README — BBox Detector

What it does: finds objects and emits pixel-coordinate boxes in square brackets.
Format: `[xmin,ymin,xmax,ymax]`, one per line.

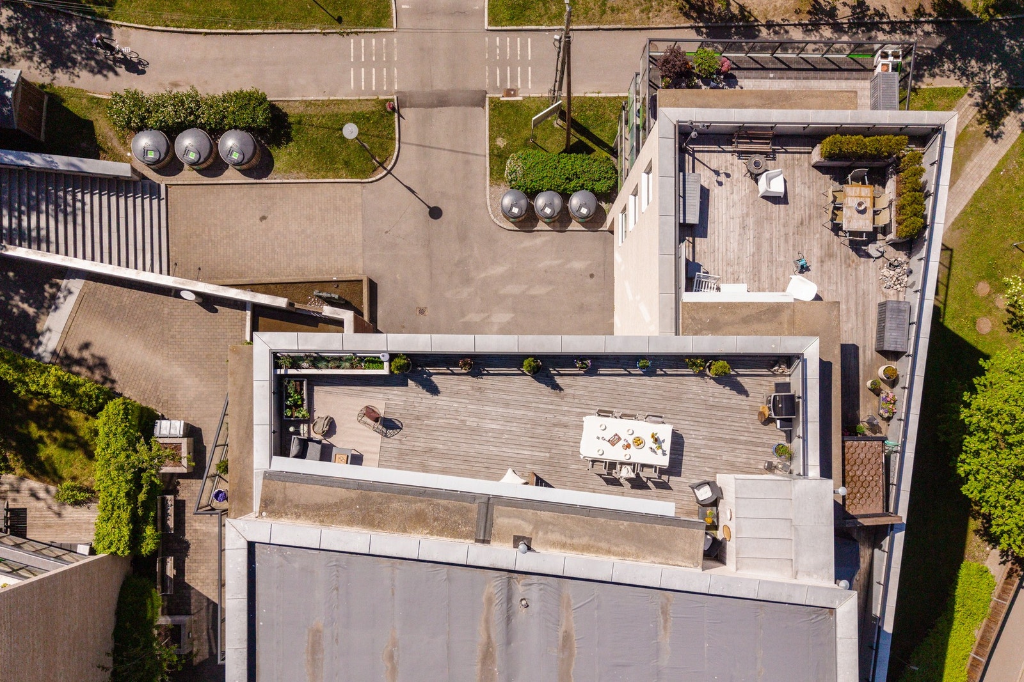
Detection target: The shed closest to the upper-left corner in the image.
[0,67,54,144]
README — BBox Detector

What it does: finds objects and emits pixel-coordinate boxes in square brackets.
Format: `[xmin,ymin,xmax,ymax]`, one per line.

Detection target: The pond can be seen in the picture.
[192,277,372,334]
